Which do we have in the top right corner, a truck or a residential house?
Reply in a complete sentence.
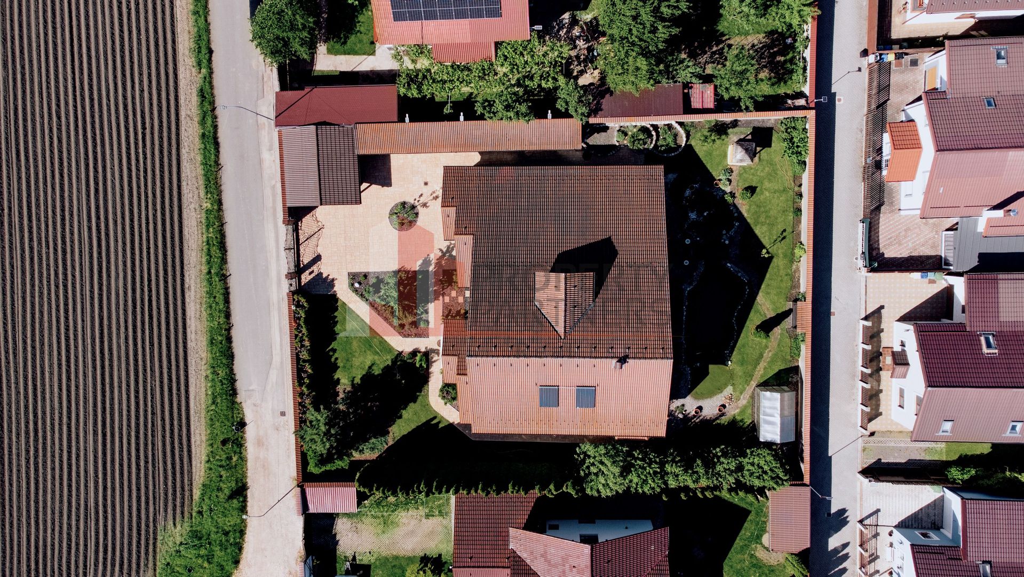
Visible in the top right corner is a residential house.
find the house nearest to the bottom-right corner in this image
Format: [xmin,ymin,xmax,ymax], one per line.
[896,491,1024,577]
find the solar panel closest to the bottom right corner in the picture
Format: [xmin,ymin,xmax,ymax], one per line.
[576,388,596,410]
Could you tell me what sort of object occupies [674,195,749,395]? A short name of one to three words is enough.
pond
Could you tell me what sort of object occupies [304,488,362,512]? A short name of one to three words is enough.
shed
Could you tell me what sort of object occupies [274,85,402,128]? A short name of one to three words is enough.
building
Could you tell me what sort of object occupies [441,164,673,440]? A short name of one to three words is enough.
house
